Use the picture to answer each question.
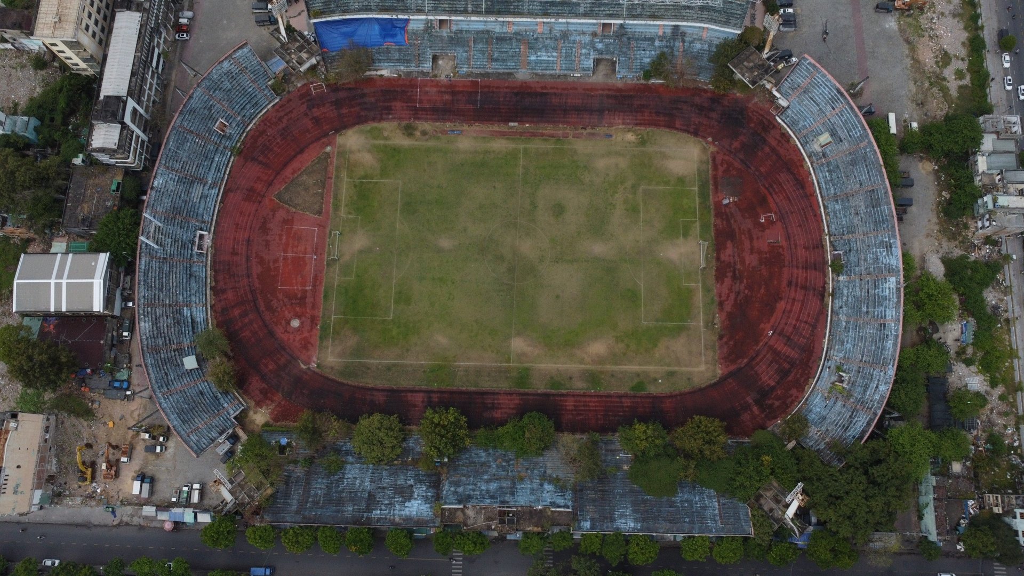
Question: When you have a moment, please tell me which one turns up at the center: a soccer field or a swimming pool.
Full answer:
There is a soccer field at the center.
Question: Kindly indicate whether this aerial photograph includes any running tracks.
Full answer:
Yes, a running track is visible in the scene.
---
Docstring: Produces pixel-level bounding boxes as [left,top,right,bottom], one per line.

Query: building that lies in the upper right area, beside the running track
[725,46,776,96]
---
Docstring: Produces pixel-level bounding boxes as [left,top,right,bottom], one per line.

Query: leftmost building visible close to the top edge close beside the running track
[86,0,176,170]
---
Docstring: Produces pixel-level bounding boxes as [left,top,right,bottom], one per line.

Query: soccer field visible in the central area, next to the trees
[315,121,721,396]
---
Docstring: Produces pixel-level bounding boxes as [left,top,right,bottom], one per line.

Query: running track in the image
[211,78,827,438]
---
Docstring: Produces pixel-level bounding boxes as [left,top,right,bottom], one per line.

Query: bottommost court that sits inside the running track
[275,226,317,289]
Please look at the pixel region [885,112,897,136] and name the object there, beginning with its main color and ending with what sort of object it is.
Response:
white vehicle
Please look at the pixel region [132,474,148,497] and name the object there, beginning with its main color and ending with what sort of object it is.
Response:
white vehicle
